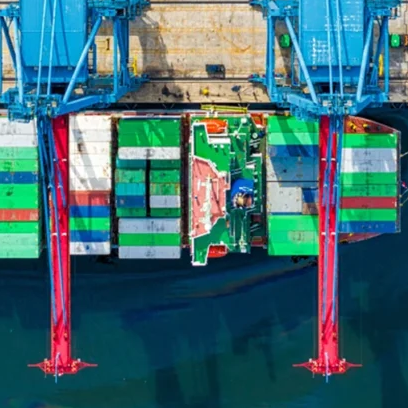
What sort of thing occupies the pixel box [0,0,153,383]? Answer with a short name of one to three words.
container crane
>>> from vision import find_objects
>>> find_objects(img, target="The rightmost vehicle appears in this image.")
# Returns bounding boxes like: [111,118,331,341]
[389,32,408,46]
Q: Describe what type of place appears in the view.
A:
port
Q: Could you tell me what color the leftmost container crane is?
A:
blue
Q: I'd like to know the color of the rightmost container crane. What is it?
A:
blue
